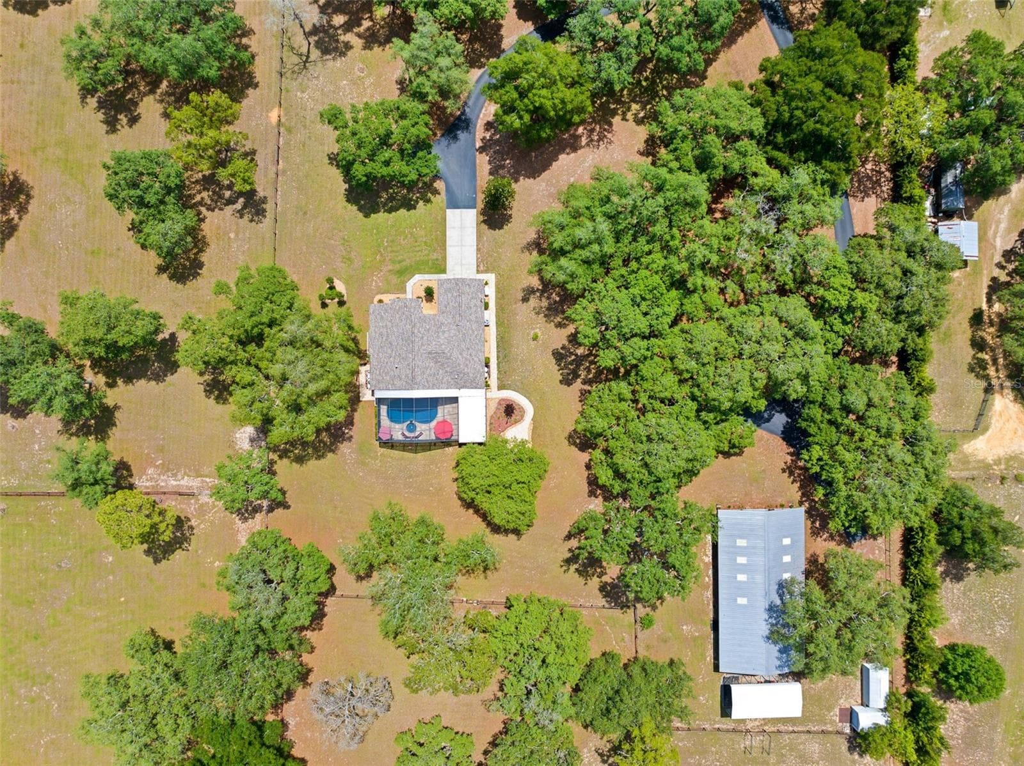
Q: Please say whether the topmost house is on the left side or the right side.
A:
right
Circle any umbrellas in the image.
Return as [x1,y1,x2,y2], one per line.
[433,419,453,439]
[378,422,392,437]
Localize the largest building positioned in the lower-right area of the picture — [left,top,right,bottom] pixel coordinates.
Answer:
[712,508,806,675]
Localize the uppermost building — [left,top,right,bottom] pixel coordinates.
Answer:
[930,158,966,219]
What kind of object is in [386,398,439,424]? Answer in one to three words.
swimming pool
